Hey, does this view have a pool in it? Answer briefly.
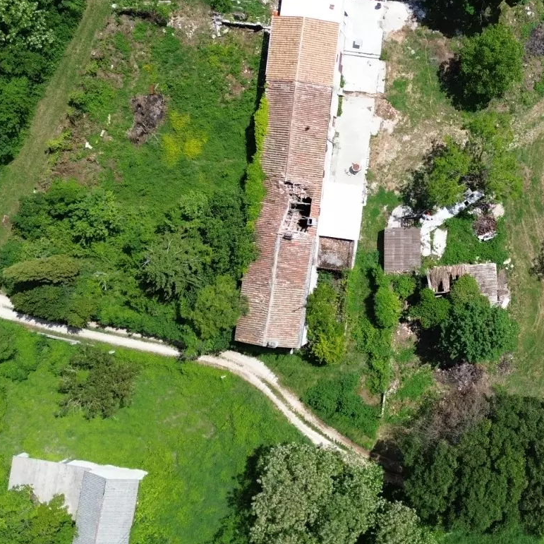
No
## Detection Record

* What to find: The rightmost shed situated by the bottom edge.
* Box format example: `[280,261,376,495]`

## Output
[65,460,148,544]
